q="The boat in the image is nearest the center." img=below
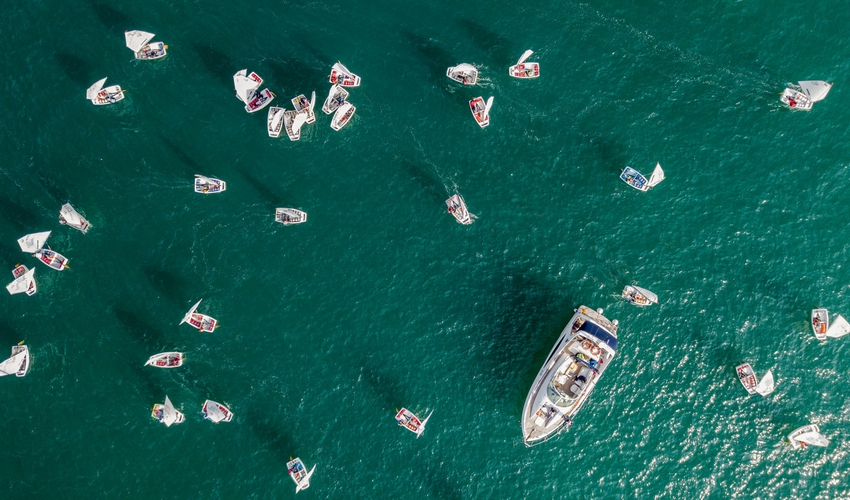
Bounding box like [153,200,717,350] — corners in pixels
[445,192,471,226]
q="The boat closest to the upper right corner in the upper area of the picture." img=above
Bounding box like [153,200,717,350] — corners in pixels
[774,79,832,110]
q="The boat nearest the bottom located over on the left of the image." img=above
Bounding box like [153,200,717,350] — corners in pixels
[286,453,317,495]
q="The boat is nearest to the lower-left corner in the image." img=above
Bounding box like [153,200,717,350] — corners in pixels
[0,341,31,377]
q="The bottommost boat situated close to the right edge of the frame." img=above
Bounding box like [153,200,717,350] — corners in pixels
[782,424,834,449]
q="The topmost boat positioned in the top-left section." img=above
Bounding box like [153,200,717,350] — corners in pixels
[125,29,173,60]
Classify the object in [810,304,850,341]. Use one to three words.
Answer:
boat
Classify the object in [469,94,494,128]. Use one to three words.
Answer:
boat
